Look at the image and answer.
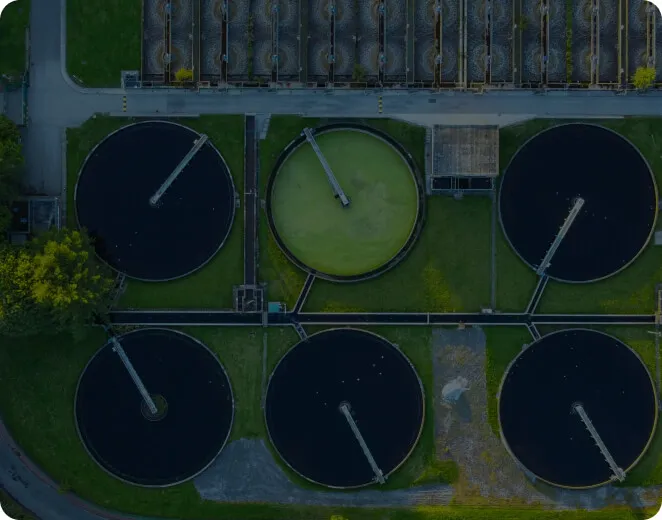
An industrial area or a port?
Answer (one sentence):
The area seen from above is an industrial area.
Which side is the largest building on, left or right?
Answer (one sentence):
You can find the largest building on the right side of the picture.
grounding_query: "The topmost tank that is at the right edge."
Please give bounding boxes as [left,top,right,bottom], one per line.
[497,124,659,283]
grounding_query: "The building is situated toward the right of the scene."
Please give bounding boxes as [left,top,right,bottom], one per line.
[431,125,499,177]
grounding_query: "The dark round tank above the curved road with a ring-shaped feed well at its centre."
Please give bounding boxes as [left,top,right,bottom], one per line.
[74,328,234,488]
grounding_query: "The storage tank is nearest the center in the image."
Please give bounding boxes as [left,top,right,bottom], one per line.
[265,122,425,283]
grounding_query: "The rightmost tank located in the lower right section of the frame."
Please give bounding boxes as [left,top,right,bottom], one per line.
[497,328,658,488]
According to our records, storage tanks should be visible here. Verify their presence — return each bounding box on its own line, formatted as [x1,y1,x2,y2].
[265,122,425,283]
[497,124,659,283]
[74,328,234,488]
[265,328,425,488]
[75,121,237,281]
[497,328,658,488]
